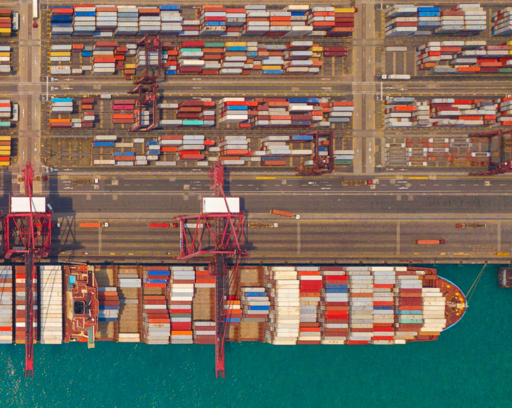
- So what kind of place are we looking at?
port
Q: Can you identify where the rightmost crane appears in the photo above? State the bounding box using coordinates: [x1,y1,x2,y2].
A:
[471,130,512,176]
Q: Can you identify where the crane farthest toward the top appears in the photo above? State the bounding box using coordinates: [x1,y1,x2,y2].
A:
[133,33,163,83]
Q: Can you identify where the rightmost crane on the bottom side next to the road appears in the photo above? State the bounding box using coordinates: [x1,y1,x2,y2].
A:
[170,160,244,379]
